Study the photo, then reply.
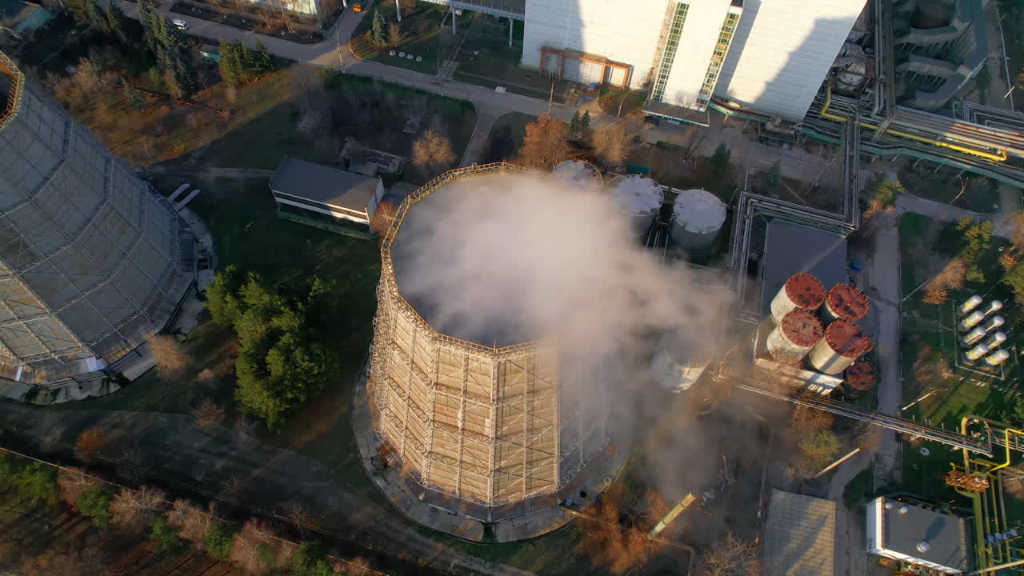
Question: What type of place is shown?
industrial area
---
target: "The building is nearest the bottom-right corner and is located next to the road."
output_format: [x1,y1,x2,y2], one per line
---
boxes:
[871,488,974,575]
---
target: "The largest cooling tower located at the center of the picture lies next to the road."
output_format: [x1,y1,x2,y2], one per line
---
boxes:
[346,150,646,542]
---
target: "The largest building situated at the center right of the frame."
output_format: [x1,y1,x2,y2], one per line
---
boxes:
[755,218,847,327]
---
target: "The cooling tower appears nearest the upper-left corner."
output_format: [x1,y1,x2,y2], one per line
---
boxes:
[0,49,216,408]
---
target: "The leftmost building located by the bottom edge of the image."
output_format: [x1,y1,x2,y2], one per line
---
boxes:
[757,489,838,576]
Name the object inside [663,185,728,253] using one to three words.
storage tank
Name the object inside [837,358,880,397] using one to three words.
storage tank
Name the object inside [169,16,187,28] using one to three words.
vehicle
